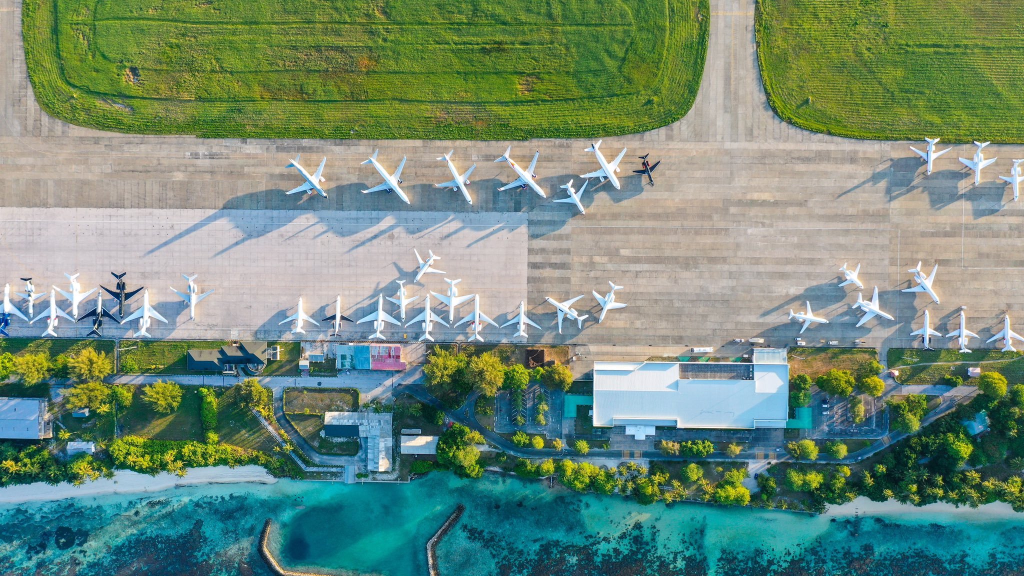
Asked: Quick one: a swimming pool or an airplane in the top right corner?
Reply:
airplane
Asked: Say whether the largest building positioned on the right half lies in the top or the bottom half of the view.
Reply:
bottom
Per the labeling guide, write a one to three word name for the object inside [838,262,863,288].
airplane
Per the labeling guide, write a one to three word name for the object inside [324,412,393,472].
building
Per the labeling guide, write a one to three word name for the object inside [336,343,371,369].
shed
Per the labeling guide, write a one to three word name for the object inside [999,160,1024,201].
airplane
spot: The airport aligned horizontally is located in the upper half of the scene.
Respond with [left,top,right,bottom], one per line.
[0,0,1024,373]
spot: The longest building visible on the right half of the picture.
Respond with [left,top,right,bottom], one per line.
[593,361,789,440]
